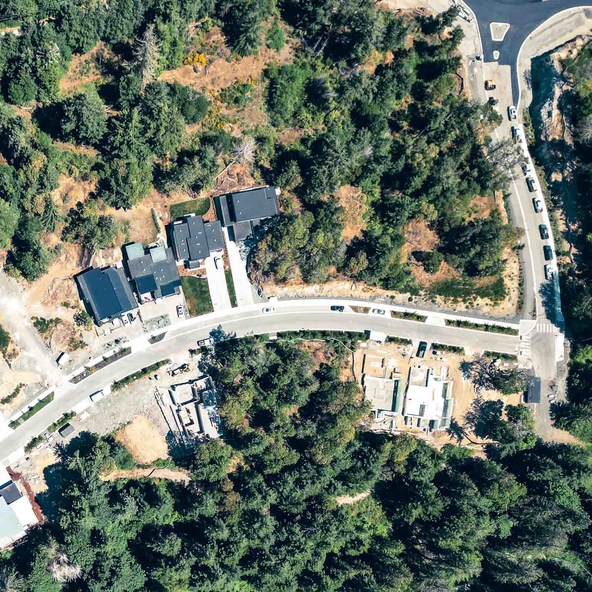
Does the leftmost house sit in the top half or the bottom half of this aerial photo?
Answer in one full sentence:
The leftmost house is in the bottom half of the image.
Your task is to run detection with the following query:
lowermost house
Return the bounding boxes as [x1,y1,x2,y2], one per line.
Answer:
[0,483,38,549]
